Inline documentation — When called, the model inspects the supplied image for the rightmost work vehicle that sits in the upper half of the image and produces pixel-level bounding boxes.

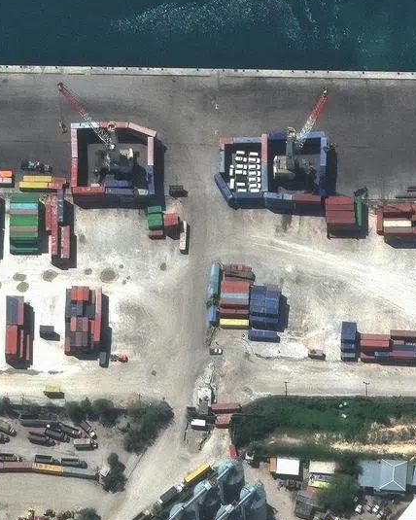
[355,180,375,199]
